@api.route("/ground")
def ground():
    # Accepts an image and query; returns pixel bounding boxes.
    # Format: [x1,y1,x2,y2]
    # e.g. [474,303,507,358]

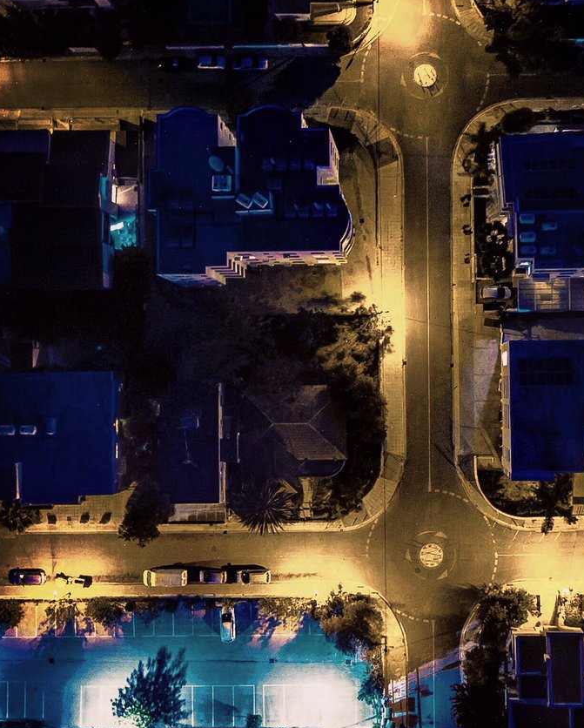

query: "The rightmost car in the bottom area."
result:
[236,568,272,585]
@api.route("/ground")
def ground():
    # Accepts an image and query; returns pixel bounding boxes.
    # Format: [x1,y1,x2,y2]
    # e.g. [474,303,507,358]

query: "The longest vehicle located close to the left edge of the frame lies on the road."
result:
[10,570,47,587]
